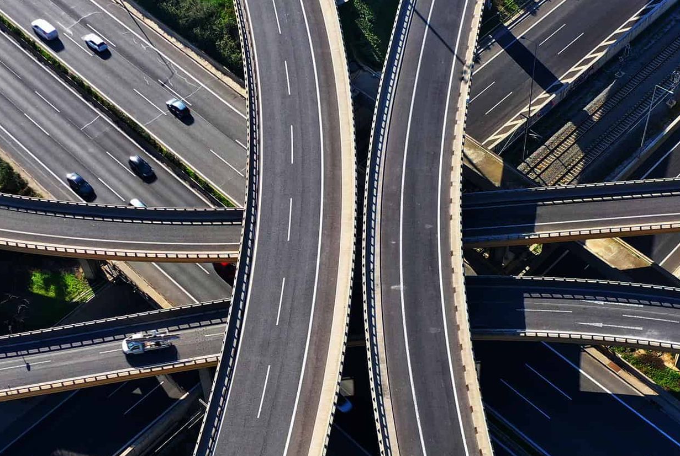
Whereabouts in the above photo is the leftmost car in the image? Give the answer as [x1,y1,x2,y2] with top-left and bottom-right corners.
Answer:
[32,21,58,41]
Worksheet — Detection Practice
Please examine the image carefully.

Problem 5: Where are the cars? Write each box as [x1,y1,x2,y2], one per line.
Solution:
[166,98,191,120]
[336,389,358,417]
[32,21,58,41]
[85,35,108,54]
[67,175,94,200]
[125,197,153,212]
[126,155,156,182]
